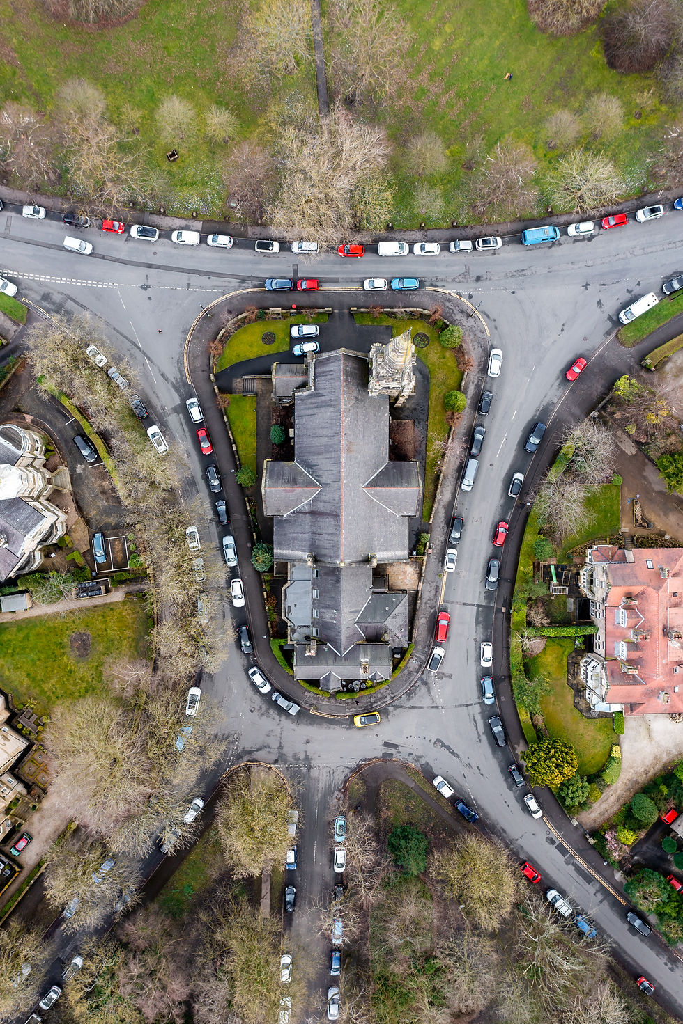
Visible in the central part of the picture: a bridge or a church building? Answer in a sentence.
It is a church building that can be seen in the central part of the picture.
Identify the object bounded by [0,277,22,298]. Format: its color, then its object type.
white car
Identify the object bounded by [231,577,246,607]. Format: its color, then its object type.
white car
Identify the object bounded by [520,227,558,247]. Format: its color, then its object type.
blue vehicle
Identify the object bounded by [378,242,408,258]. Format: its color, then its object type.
white vehicle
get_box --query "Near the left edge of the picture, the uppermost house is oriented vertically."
[0,419,70,587]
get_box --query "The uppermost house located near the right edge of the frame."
[574,544,683,715]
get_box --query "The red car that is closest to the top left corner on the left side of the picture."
[102,221,126,235]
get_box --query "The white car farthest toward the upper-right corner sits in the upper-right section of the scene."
[633,205,664,224]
